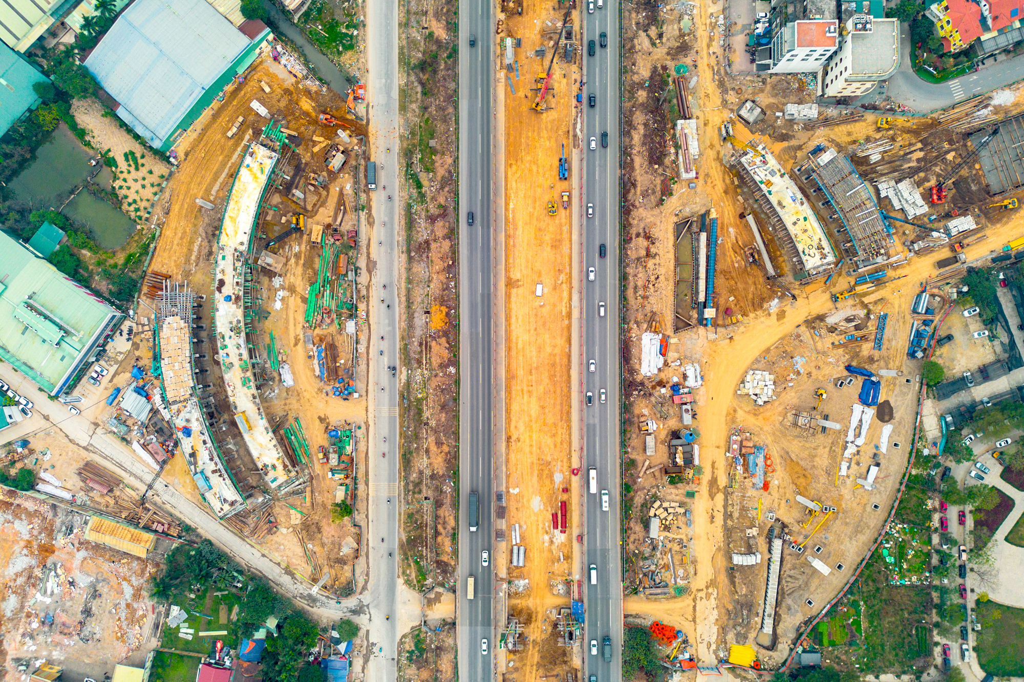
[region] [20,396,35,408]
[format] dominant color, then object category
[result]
white vehicle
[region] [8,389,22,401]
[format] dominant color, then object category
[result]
white vehicle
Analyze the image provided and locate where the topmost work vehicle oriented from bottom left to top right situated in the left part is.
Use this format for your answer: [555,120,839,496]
[346,83,370,118]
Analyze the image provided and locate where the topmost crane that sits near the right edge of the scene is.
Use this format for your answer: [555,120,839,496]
[924,126,1001,206]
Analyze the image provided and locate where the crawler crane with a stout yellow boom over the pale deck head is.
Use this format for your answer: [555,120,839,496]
[715,122,766,167]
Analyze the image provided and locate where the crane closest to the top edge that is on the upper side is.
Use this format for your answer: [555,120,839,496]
[530,1,572,114]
